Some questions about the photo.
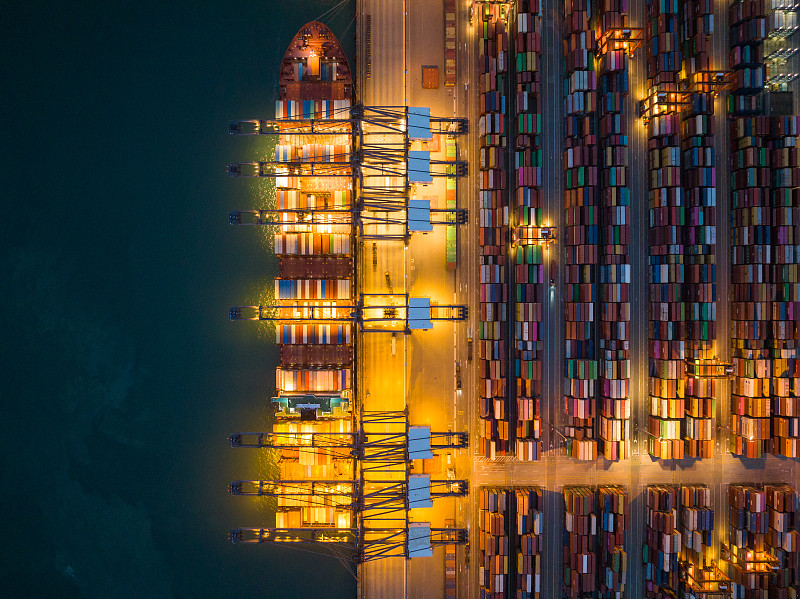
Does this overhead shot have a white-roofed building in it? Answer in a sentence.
No, there isn't any white-roofed building down there.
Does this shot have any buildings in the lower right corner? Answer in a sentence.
No, no building is visible in the lower right corner.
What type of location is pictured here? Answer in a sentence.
The area seen from above is a port.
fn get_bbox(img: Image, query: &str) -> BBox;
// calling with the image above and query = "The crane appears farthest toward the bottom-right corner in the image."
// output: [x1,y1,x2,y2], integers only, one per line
[722,544,780,573]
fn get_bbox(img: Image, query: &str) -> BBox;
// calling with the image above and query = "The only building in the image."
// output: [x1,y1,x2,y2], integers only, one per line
[762,91,794,119]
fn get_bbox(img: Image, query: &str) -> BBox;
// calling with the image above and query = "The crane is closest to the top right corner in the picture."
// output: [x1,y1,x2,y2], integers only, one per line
[679,69,733,98]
